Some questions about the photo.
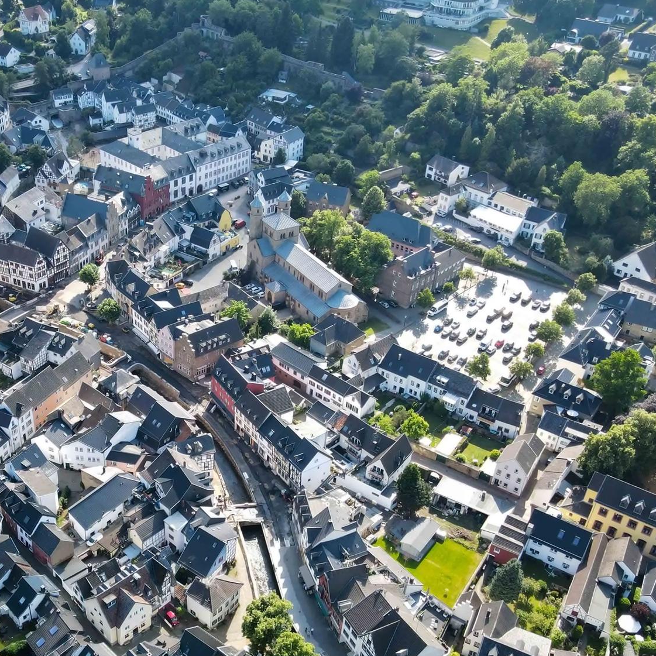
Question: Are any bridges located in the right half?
No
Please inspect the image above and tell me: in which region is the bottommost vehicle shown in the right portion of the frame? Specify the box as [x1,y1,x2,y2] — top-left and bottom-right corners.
[445,622,461,646]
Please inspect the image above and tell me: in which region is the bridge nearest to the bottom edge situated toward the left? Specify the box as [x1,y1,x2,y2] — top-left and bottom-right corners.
[230,498,264,526]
